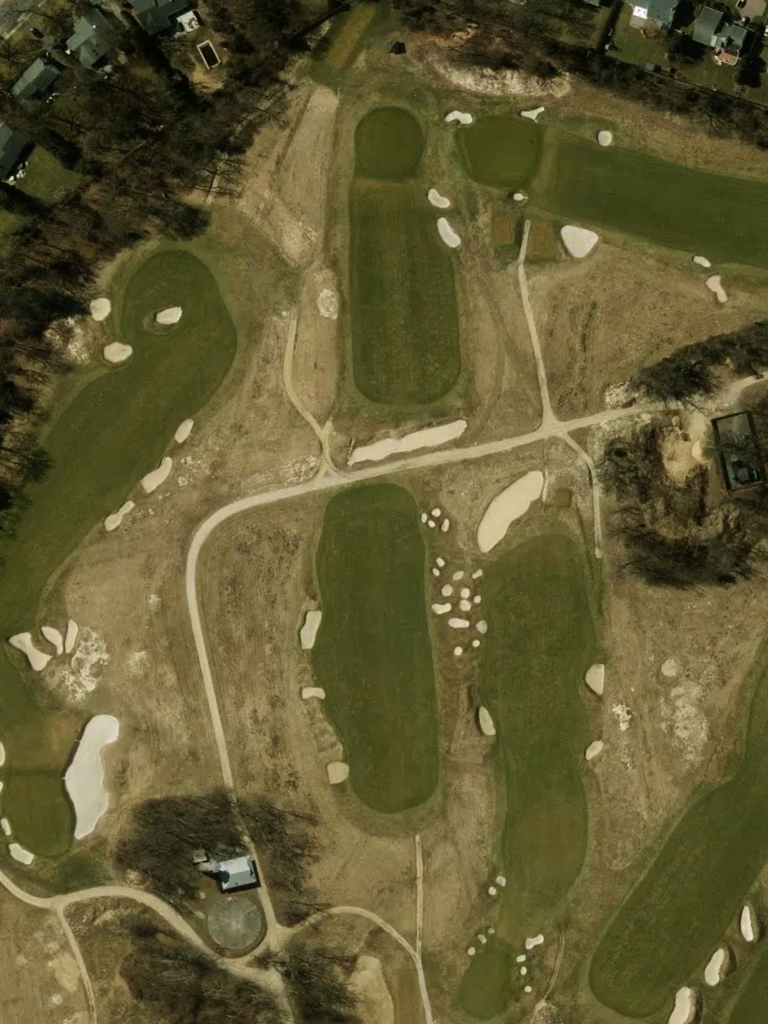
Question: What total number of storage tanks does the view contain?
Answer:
1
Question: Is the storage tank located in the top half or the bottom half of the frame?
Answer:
bottom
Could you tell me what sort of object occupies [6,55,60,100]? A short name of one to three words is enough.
house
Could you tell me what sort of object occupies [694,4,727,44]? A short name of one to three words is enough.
house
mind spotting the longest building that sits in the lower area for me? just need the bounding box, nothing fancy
[198,858,258,890]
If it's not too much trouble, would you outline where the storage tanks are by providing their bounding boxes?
[209,898,262,951]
